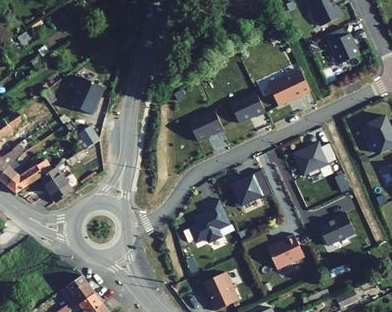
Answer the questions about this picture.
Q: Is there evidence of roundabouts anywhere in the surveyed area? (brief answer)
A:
Yes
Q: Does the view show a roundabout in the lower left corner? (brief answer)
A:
Yes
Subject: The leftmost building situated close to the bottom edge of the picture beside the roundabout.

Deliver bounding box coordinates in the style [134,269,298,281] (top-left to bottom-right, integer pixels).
[55,275,94,308]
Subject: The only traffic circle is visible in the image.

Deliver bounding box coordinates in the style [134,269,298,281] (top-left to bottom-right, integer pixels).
[64,193,138,267]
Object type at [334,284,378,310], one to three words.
shed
